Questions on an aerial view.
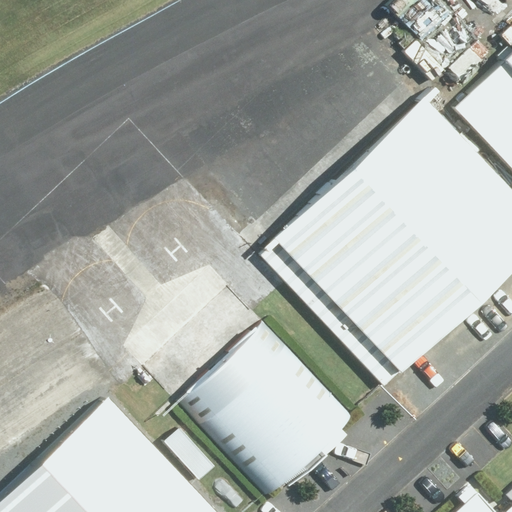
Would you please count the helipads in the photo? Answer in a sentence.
Looking from above, you can make out 2 helipads.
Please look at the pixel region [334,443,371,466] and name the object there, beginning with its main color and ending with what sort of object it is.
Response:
white car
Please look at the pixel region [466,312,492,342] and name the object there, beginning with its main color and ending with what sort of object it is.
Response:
white car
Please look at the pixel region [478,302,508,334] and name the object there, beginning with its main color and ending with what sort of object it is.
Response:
gray car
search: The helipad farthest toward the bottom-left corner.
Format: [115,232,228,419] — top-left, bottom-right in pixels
[30,226,151,387]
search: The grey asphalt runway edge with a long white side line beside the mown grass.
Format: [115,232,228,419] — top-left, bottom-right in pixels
[0,0,288,156]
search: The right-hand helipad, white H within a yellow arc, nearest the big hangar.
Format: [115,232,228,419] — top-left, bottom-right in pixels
[98,180,286,318]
